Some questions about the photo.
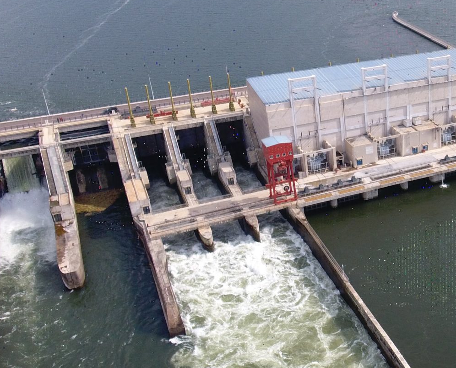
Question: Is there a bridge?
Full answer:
Yes, the photo shows a bridge.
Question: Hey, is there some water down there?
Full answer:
Yes, there is water in the image.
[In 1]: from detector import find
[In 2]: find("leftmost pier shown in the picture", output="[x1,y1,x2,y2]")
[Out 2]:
[40,133,85,289]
